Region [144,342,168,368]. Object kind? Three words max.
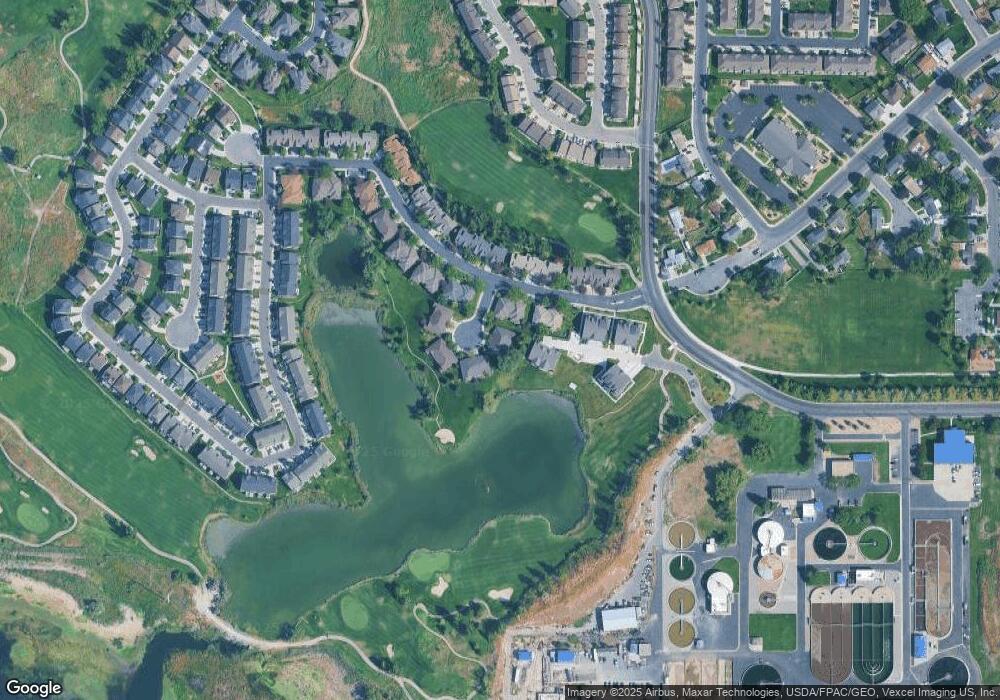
house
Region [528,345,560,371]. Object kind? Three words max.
building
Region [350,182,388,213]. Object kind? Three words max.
house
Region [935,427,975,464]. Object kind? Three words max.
building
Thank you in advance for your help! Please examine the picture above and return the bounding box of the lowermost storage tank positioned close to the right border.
[927,657,970,698]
